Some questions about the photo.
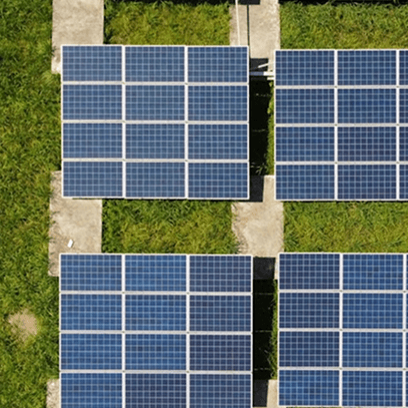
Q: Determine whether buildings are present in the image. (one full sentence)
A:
No, no building is visible in the scene.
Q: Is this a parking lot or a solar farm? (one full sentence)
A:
It's a solar farm.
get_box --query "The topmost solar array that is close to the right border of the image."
[273,49,408,201]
